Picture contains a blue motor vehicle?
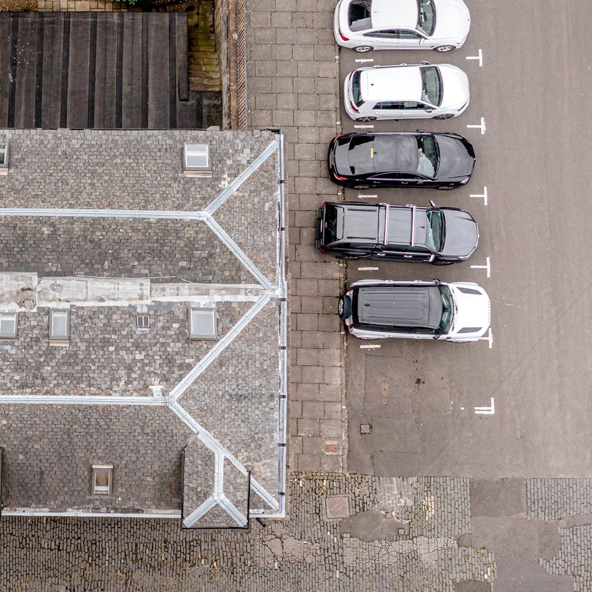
No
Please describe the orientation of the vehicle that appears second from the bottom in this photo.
horizontally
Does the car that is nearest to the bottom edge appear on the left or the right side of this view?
right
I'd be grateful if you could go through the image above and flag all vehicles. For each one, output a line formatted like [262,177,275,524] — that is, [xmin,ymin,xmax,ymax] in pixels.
[339,273,493,346]
[313,194,479,267]
[329,125,472,192]
[334,0,469,55]
[343,56,468,122]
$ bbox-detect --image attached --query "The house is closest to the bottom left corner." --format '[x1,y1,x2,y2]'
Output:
[0,127,289,529]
